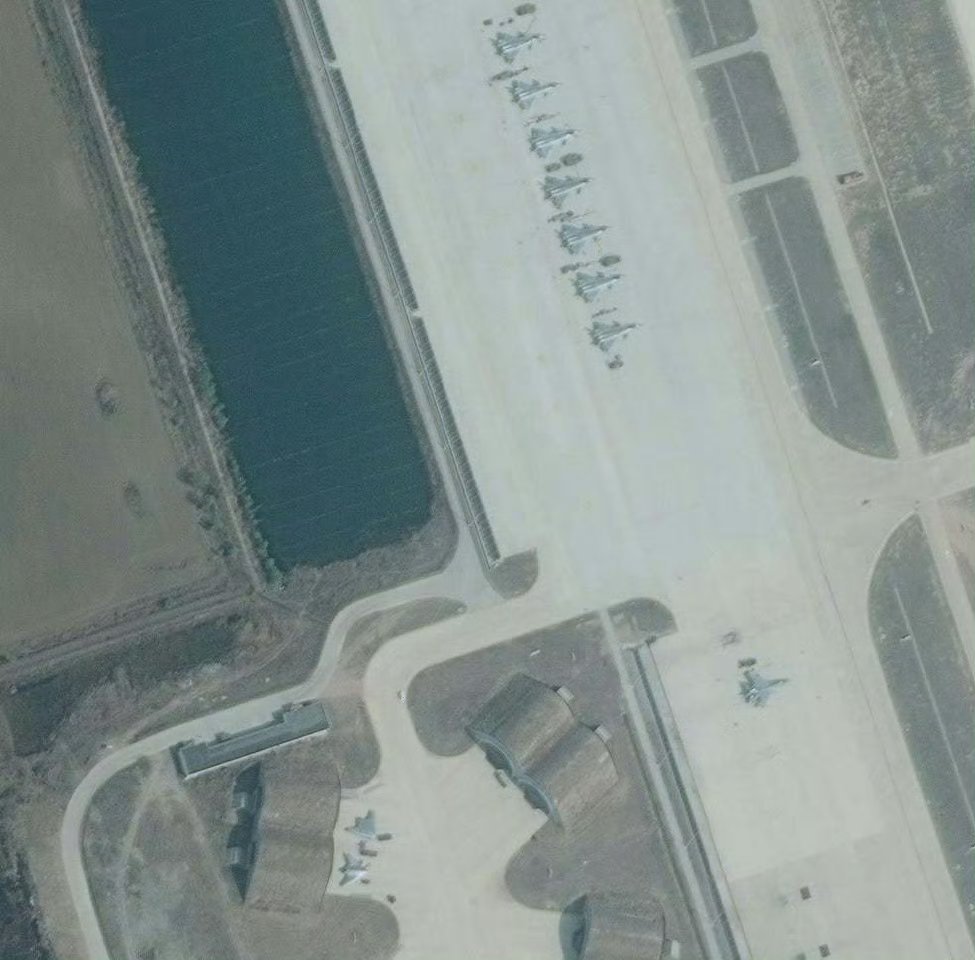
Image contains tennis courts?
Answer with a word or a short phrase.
No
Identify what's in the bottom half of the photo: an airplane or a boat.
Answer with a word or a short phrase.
airplane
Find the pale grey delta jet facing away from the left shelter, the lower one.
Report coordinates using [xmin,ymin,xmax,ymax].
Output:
[338,857,379,882]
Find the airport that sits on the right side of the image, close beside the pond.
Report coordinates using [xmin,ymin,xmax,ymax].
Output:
[318,0,975,960]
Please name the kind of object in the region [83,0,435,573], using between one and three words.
pond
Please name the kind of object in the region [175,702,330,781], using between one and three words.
building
